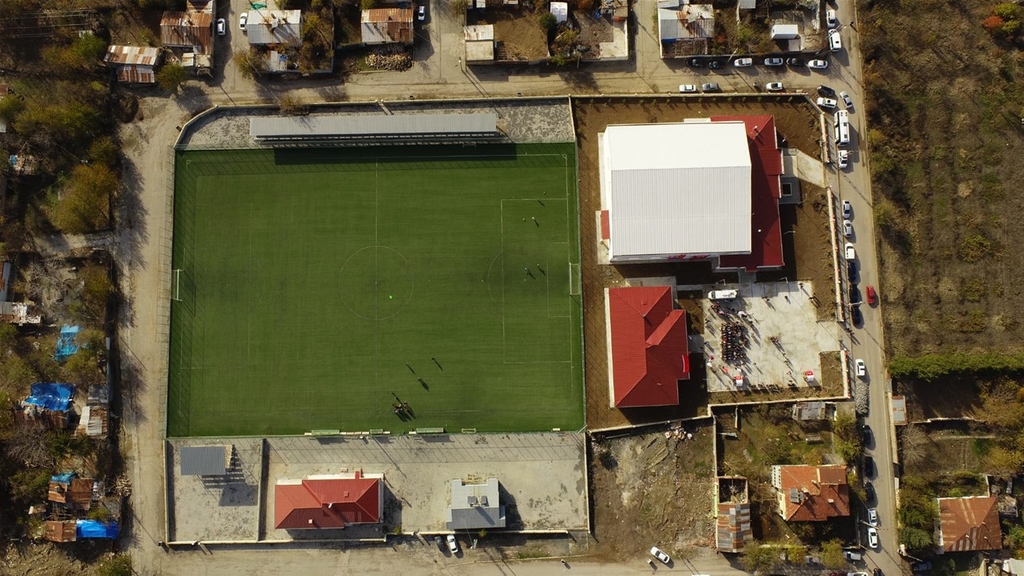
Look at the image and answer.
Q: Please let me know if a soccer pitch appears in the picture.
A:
Yes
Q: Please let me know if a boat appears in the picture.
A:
No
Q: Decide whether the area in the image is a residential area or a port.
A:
residential area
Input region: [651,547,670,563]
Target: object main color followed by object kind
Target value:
white car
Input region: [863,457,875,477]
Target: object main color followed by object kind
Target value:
black vehicle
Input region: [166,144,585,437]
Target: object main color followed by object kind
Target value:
green soccer field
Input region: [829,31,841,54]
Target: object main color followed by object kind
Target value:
white vehicle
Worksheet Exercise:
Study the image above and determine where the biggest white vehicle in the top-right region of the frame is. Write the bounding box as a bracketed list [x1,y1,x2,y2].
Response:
[833,111,849,147]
